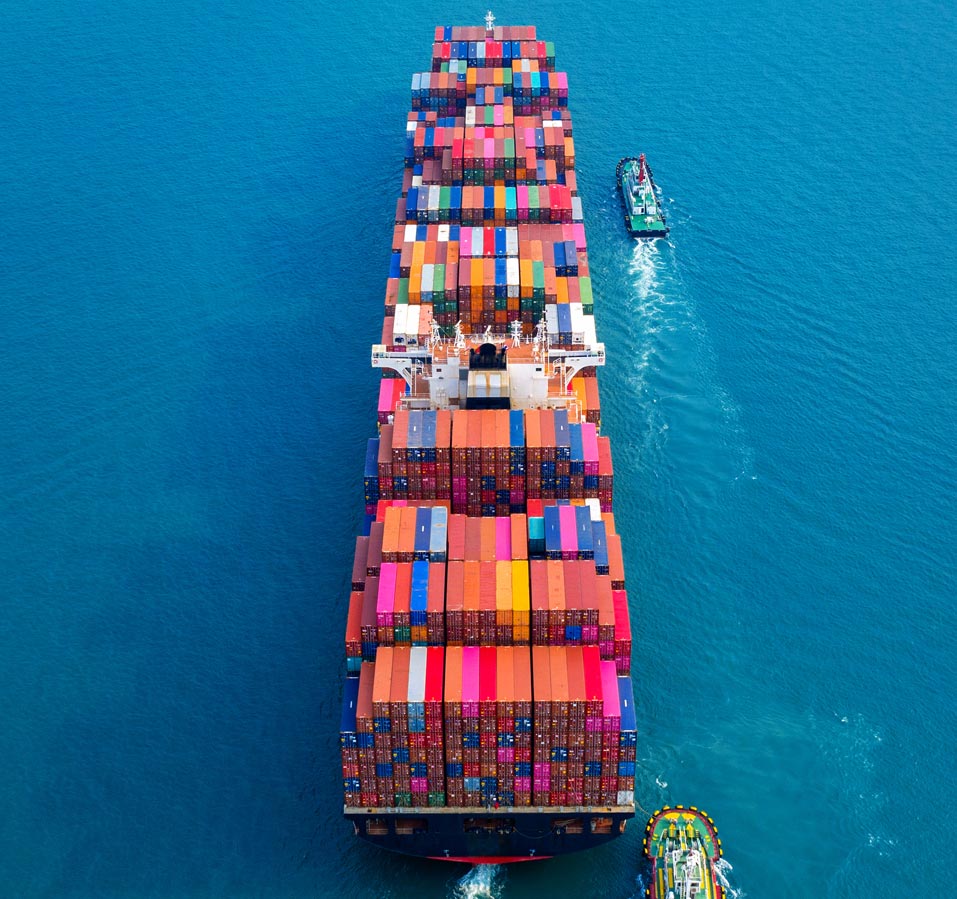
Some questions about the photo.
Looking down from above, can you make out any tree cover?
No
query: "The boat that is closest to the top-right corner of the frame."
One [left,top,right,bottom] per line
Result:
[616,152,671,240]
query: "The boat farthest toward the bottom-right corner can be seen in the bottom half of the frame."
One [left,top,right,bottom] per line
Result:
[645,802,724,899]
